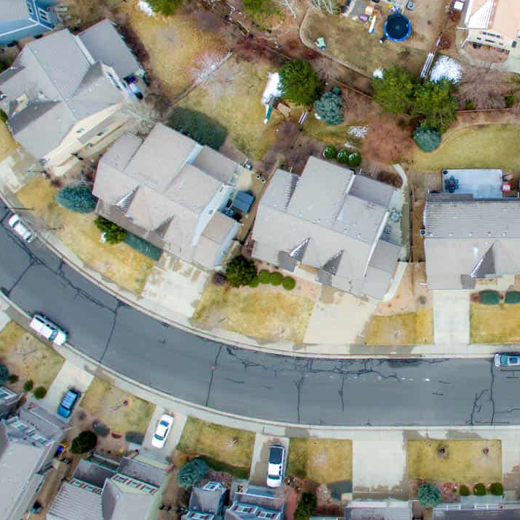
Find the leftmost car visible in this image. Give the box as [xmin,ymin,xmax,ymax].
[8,214,37,243]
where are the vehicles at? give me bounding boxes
[152,415,173,448]
[495,353,520,368]
[266,446,283,486]
[58,387,81,418]
[8,214,37,243]
[30,314,66,343]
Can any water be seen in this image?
No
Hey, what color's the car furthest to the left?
white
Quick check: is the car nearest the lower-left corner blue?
Yes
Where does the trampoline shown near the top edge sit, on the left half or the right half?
right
